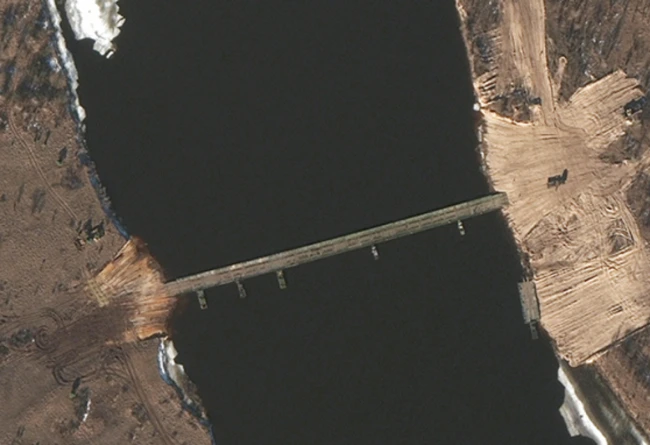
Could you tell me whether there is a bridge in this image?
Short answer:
Yes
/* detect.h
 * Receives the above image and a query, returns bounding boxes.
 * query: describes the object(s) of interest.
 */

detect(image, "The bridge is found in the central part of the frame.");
[166,194,507,296]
